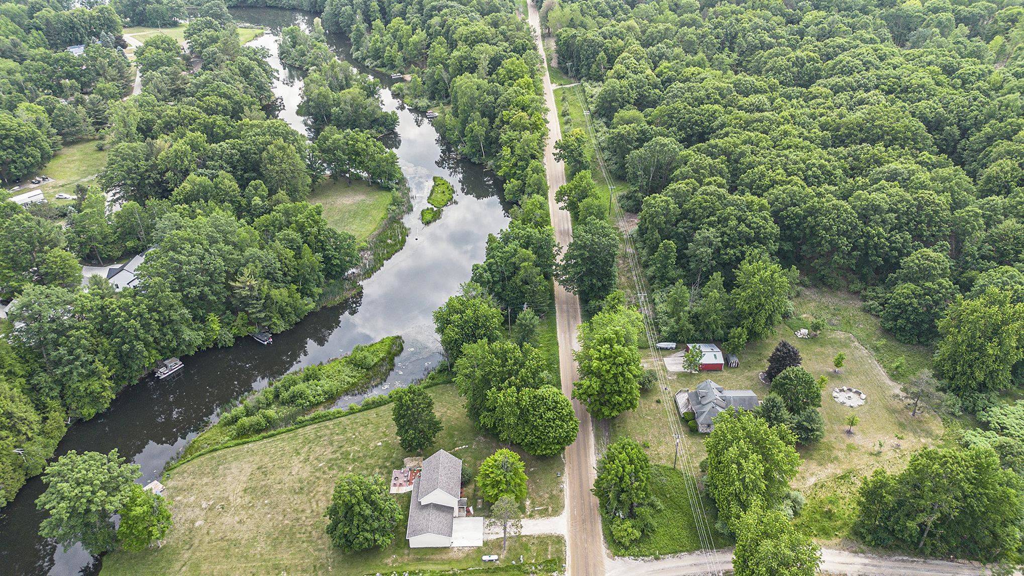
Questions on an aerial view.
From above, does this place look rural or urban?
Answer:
rural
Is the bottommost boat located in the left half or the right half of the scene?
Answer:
left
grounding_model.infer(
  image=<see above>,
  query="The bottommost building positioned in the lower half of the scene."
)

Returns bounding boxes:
[406,447,468,547]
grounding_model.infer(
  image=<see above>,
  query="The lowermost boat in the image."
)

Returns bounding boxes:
[153,358,185,380]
